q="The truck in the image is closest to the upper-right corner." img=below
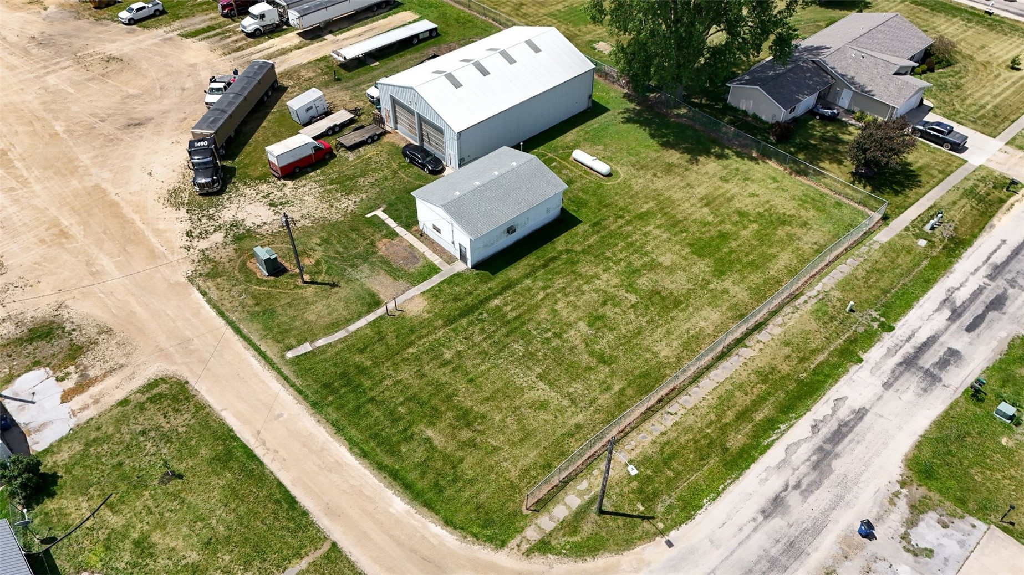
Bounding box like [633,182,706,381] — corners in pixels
[911,120,970,150]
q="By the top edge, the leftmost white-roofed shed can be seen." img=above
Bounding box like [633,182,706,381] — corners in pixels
[376,26,595,170]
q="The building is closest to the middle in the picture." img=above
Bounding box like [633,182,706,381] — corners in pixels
[407,142,570,268]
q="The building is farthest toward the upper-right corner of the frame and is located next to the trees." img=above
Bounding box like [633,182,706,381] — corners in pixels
[776,12,934,129]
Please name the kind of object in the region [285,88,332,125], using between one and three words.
trailer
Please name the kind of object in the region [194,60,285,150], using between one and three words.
trailer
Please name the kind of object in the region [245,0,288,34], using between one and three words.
truck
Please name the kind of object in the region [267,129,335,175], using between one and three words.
van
